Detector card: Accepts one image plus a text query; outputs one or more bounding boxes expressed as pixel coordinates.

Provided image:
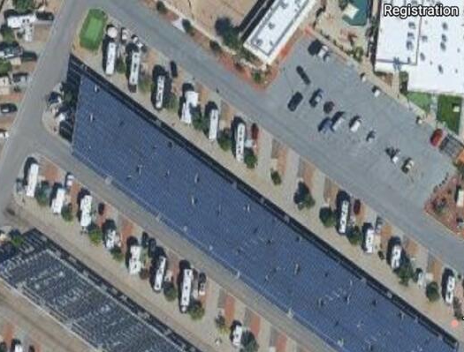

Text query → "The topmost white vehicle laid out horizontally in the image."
[5,13,36,27]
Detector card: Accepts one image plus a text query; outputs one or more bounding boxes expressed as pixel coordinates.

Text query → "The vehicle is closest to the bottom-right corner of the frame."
[444,275,461,306]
